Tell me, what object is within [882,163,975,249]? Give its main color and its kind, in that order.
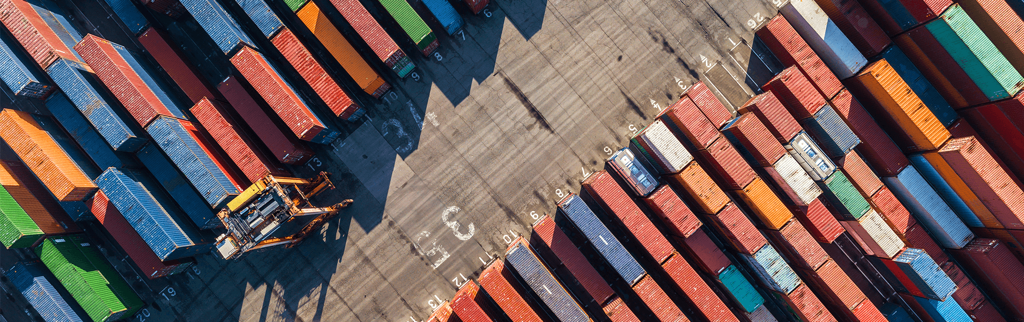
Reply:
blue shipping container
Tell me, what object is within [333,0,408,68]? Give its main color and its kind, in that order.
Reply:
red shipping container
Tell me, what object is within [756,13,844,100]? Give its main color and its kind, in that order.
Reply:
red shipping container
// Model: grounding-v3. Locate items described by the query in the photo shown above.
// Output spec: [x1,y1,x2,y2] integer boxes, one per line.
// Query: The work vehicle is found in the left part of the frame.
[213,167,351,259]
